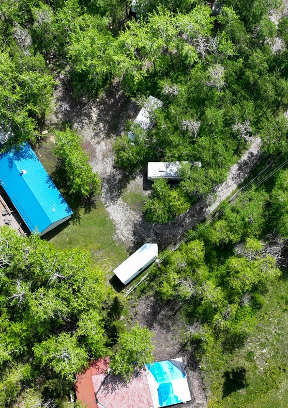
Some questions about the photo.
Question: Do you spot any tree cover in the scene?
Yes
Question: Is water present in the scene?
No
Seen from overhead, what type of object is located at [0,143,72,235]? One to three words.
house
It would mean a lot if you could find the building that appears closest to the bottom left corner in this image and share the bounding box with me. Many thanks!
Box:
[76,356,154,408]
